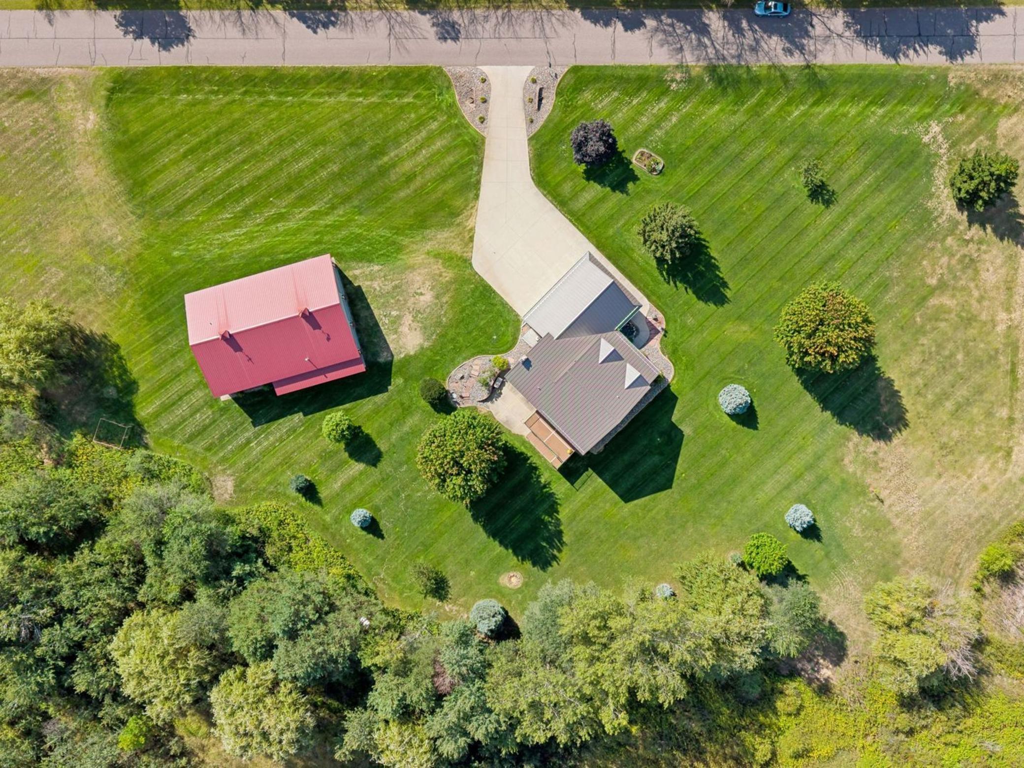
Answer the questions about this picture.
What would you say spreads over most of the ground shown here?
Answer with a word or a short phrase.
grass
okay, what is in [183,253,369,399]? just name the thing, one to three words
barn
